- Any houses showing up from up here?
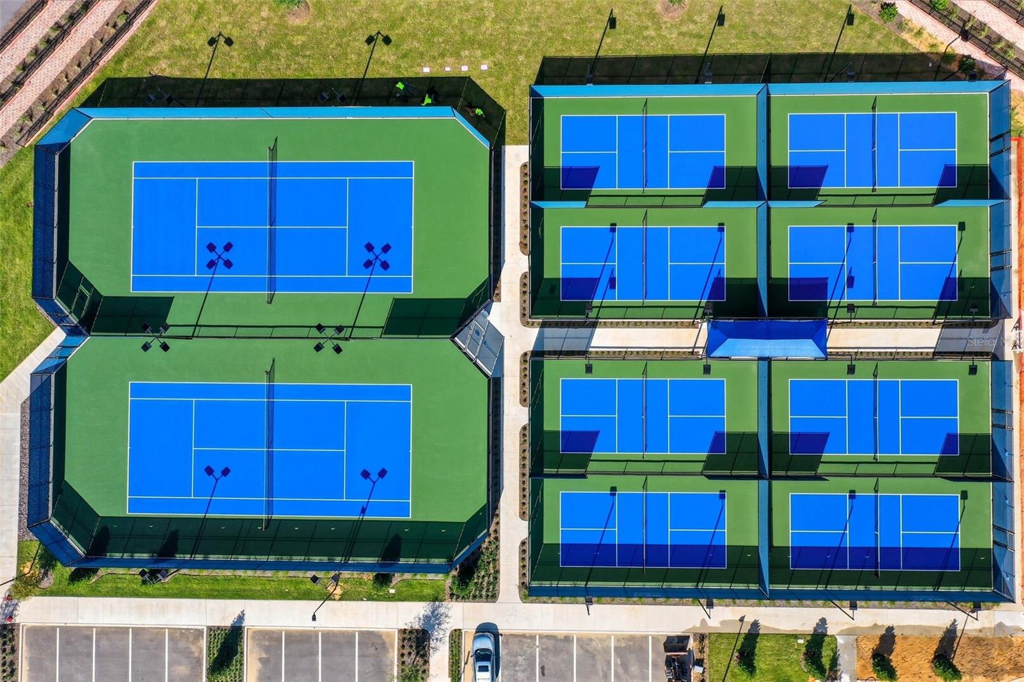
No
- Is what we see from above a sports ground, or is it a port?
sports ground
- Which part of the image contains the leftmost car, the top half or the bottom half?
bottom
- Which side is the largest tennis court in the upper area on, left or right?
left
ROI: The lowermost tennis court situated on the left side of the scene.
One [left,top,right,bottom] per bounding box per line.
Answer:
[53,337,489,562]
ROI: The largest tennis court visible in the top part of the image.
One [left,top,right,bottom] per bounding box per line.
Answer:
[56,117,489,337]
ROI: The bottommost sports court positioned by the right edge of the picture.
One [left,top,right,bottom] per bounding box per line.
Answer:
[770,477,993,589]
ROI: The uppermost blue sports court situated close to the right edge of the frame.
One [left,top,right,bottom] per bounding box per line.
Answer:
[767,94,988,206]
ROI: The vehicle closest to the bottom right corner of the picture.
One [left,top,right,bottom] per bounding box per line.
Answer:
[664,637,691,682]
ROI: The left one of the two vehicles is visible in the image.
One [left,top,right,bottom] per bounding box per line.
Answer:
[470,631,498,682]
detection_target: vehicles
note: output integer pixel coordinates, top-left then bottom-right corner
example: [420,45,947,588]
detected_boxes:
[470,631,498,682]
[664,637,691,682]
